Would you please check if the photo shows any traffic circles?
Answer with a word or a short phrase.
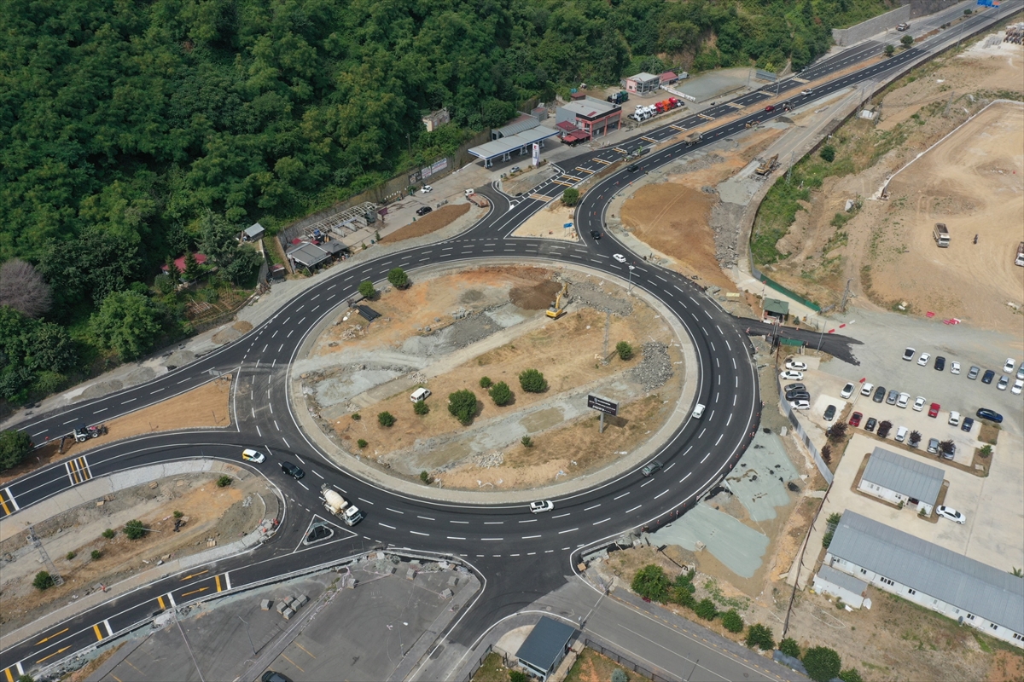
Yes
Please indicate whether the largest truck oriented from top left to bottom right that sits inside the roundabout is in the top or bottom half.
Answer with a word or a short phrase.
bottom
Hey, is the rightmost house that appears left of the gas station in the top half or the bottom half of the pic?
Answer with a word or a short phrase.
top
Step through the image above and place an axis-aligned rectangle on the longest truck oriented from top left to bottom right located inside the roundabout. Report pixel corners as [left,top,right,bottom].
[320,480,362,522]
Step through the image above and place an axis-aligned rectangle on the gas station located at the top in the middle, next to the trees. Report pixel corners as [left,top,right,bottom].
[470,123,559,170]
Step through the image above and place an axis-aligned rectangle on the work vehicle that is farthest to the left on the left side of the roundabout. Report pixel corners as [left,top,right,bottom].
[62,420,108,447]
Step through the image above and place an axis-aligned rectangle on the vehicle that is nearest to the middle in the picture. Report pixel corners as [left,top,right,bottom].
[545,280,566,317]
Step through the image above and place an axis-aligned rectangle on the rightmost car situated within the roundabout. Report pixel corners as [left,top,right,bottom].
[692,404,705,419]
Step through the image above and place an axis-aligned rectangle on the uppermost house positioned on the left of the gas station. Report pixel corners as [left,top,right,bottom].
[423,109,450,139]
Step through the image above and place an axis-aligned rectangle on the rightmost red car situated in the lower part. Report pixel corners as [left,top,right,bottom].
[927,402,942,418]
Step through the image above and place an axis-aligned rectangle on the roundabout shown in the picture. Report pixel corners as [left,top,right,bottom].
[231,237,757,560]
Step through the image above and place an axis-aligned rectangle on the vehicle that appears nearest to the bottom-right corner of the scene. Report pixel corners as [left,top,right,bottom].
[936,505,967,525]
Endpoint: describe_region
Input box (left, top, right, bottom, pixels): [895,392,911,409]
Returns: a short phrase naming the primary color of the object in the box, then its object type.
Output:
white car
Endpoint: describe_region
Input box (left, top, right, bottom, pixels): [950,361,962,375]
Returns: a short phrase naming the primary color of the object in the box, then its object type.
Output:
white vehicle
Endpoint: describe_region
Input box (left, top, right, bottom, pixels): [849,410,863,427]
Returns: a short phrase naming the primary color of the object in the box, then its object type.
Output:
red car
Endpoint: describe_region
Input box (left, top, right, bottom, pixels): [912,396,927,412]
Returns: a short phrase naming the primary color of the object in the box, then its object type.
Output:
white car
